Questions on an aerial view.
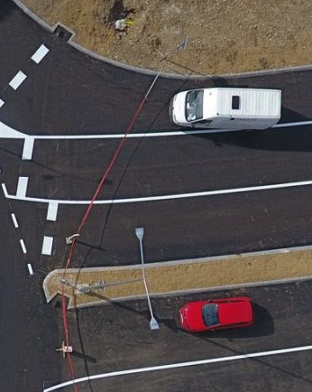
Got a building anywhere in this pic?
No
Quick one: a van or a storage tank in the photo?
van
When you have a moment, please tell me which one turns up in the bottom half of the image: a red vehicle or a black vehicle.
red vehicle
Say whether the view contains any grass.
No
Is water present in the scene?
No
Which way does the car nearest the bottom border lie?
from left to right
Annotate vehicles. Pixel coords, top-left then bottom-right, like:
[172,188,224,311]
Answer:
[166,83,285,130]
[177,295,258,333]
